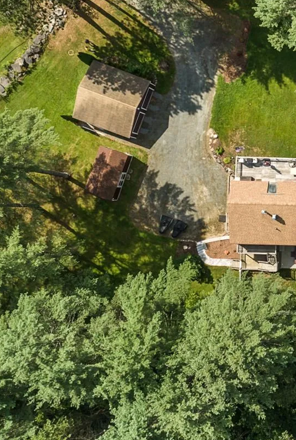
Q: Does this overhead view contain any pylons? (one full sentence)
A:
No, no pylon can be seen from above.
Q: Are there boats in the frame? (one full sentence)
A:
No, there's no boat here.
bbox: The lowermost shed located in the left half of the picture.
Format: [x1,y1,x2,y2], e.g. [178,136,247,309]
[84,145,133,199]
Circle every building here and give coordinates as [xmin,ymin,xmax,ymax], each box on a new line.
[226,156,296,274]
[84,145,133,199]
[73,61,155,138]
